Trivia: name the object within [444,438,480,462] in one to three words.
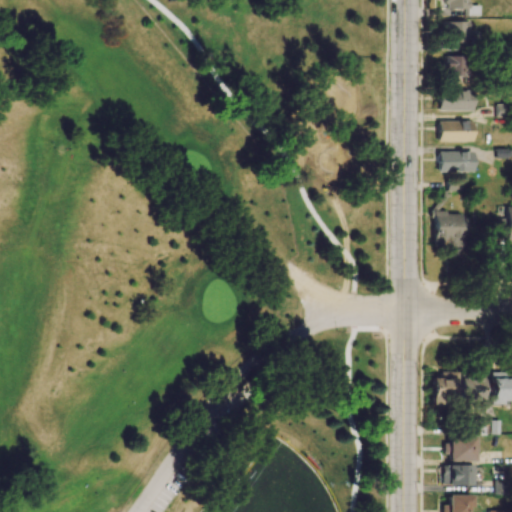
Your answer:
house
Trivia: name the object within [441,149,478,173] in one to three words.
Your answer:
house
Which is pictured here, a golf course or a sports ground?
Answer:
golf course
